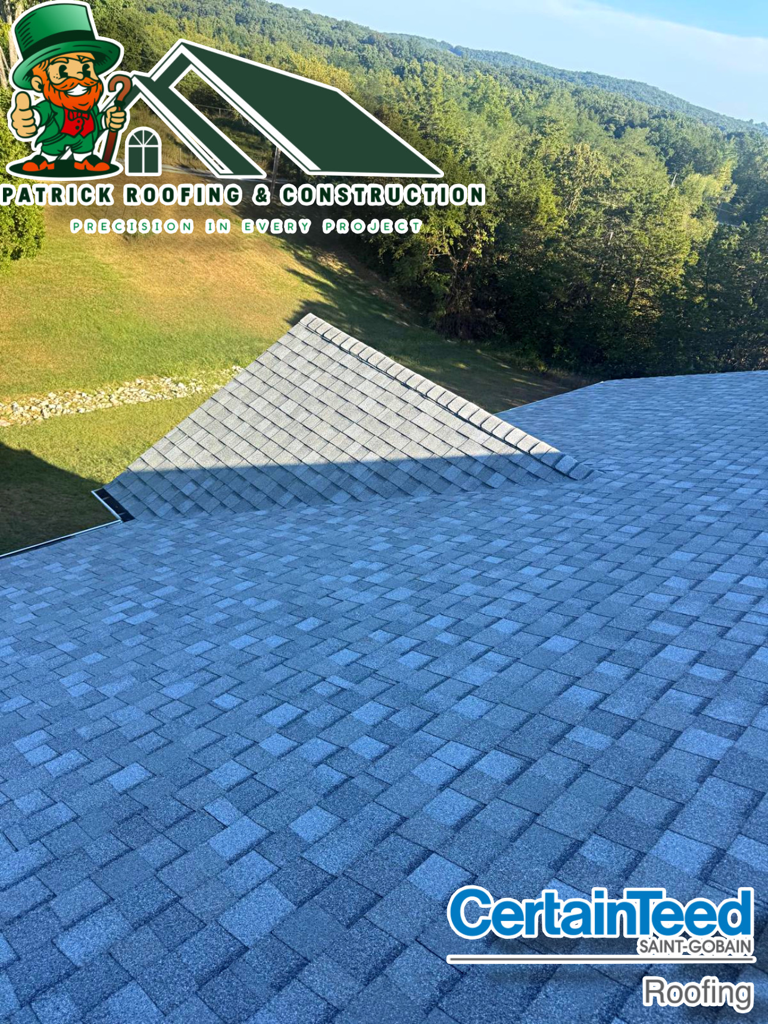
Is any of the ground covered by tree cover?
Yes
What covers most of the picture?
buildings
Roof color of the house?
blue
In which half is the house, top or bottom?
bottom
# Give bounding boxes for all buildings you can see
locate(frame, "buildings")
[0,315,768,1024]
